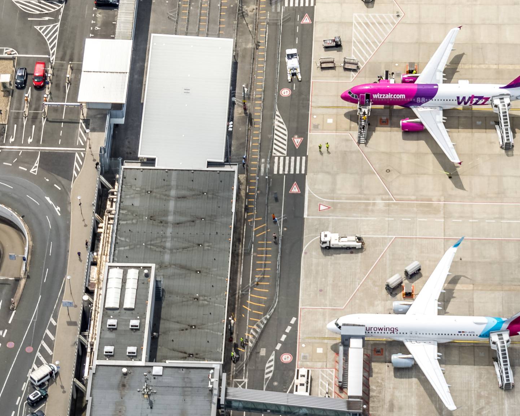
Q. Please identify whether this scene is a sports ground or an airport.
airport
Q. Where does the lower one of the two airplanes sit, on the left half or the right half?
right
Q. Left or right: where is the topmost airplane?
right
